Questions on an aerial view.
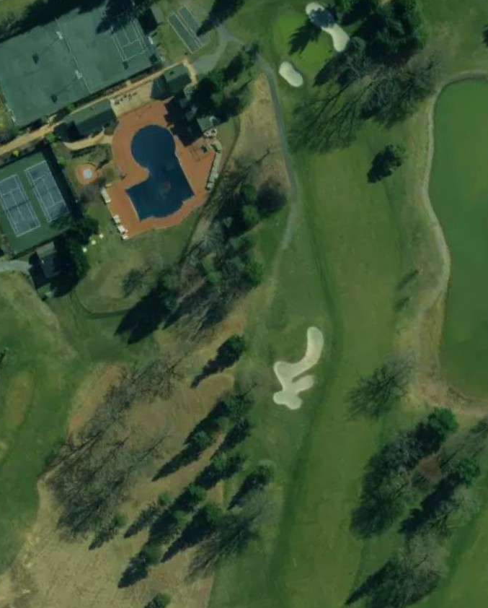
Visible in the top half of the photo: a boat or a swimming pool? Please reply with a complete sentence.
Looking in the top half of the photo, you will find a swimming pool.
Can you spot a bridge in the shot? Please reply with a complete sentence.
No, I can see no bridge in this picture.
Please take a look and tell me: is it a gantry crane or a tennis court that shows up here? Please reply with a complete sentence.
It is a tennis court that can be seen here.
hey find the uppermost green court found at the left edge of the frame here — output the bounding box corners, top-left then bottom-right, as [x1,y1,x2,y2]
[0,0,161,127]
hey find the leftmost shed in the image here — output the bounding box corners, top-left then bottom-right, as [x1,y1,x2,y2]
[27,250,60,287]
